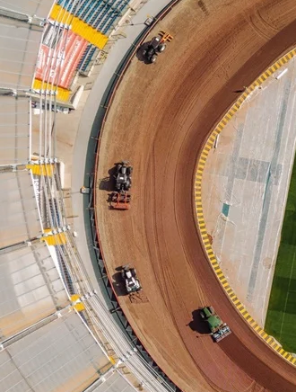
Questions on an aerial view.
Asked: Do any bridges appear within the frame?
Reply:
No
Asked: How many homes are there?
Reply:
0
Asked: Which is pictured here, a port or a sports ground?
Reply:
sports ground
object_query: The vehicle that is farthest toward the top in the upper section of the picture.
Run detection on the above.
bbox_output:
[138,30,176,59]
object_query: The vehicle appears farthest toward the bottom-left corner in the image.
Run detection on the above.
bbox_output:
[116,255,144,297]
